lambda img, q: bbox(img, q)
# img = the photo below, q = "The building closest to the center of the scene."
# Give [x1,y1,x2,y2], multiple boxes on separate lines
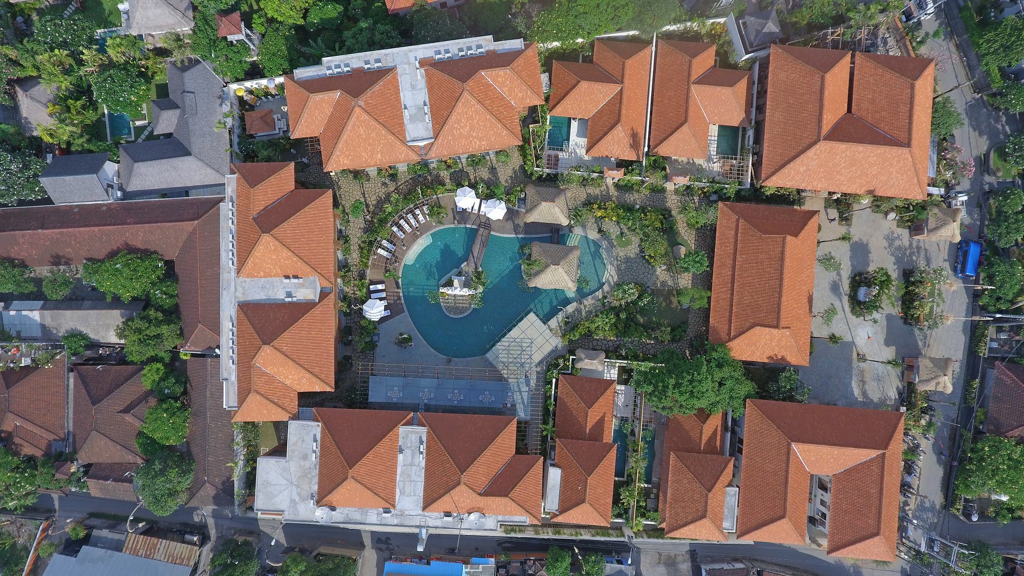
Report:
[525,239,582,293]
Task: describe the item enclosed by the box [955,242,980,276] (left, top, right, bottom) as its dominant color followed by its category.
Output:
blue vehicle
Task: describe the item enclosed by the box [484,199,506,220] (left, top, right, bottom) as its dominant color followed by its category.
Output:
white umbrella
